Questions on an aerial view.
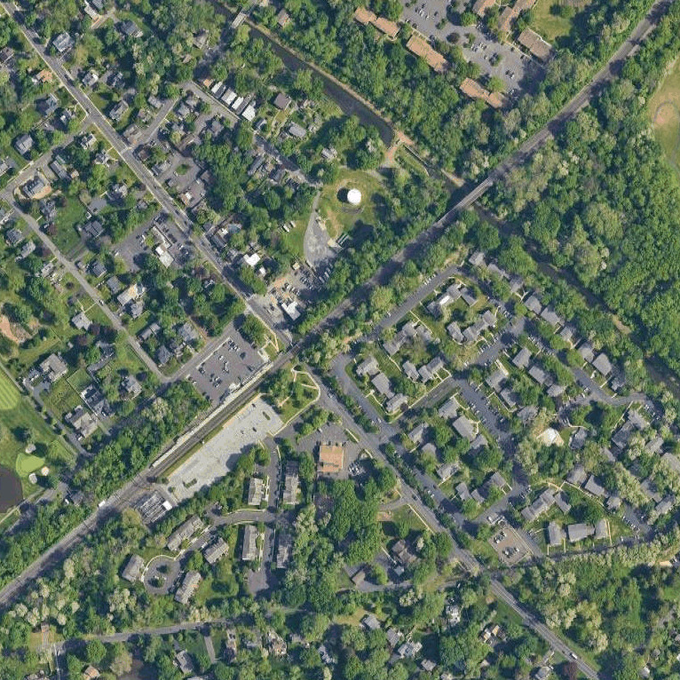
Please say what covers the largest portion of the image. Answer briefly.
trees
